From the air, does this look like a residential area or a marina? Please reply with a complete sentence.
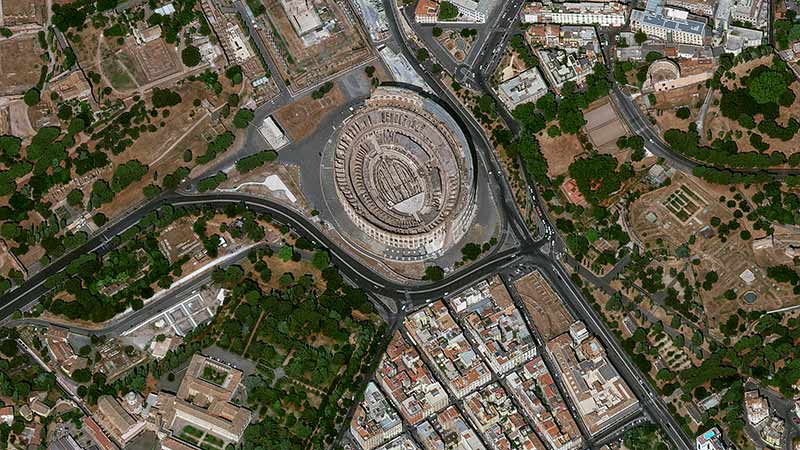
The picture captures a residential area.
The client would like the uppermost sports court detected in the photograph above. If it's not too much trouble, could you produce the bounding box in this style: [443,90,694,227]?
[585,98,619,130]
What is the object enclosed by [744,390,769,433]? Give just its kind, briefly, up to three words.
house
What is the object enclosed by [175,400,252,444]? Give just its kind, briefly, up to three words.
building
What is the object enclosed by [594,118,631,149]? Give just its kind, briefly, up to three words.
sports court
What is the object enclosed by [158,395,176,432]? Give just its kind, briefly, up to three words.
building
